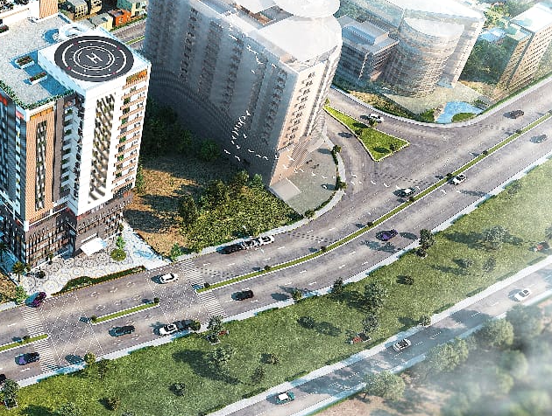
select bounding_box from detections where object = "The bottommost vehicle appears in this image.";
[274,391,295,405]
